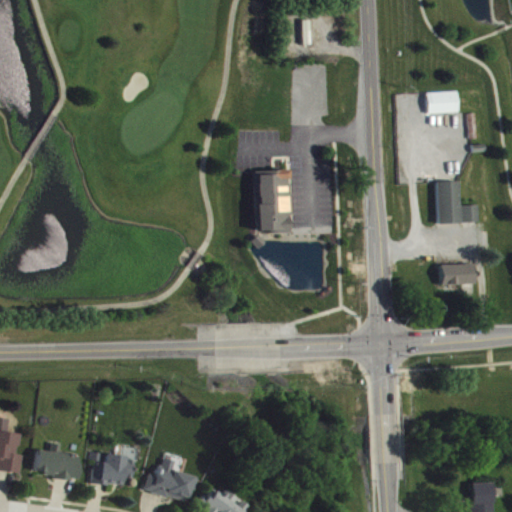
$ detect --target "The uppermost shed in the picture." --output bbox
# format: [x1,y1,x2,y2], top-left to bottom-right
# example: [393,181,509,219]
[300,18,312,46]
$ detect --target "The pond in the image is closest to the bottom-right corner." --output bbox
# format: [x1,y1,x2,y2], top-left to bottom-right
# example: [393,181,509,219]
[252,240,324,290]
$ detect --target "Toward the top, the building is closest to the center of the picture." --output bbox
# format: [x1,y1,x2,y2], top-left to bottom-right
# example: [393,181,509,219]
[255,170,293,232]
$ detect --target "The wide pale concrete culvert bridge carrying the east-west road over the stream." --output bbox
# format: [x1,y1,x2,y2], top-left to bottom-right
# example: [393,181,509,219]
[186,322,303,374]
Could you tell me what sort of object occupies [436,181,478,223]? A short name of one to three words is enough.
building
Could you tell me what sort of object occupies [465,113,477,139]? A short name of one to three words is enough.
shed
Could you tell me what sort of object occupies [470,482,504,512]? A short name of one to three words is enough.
house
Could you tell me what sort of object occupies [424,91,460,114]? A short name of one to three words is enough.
building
